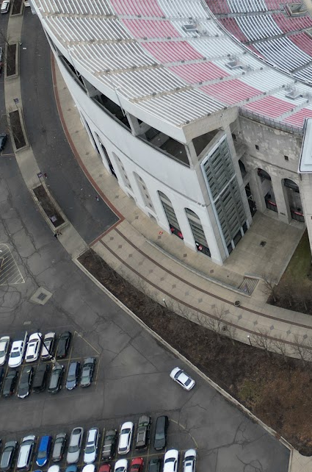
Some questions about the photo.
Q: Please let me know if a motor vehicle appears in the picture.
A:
Yes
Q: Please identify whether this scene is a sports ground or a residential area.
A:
sports ground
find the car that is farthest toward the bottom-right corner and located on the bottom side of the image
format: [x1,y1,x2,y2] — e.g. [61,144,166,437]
[179,448,198,472]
